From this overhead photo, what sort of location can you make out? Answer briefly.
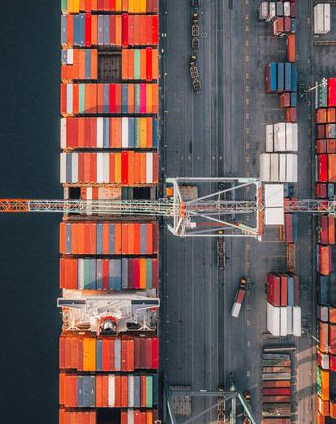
port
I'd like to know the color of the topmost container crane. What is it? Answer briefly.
white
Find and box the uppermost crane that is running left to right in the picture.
[0,170,336,239]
